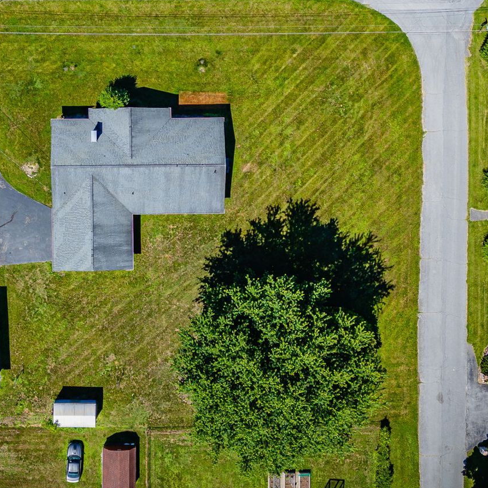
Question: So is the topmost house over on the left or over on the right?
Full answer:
The topmost house appears in the left half of the scene.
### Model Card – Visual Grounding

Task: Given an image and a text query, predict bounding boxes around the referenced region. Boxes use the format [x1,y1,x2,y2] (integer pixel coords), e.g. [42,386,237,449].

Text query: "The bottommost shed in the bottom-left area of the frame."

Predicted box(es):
[102,443,136,488]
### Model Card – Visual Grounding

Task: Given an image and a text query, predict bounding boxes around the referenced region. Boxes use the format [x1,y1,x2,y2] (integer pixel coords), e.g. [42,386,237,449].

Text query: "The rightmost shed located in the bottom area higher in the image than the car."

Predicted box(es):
[53,398,96,426]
